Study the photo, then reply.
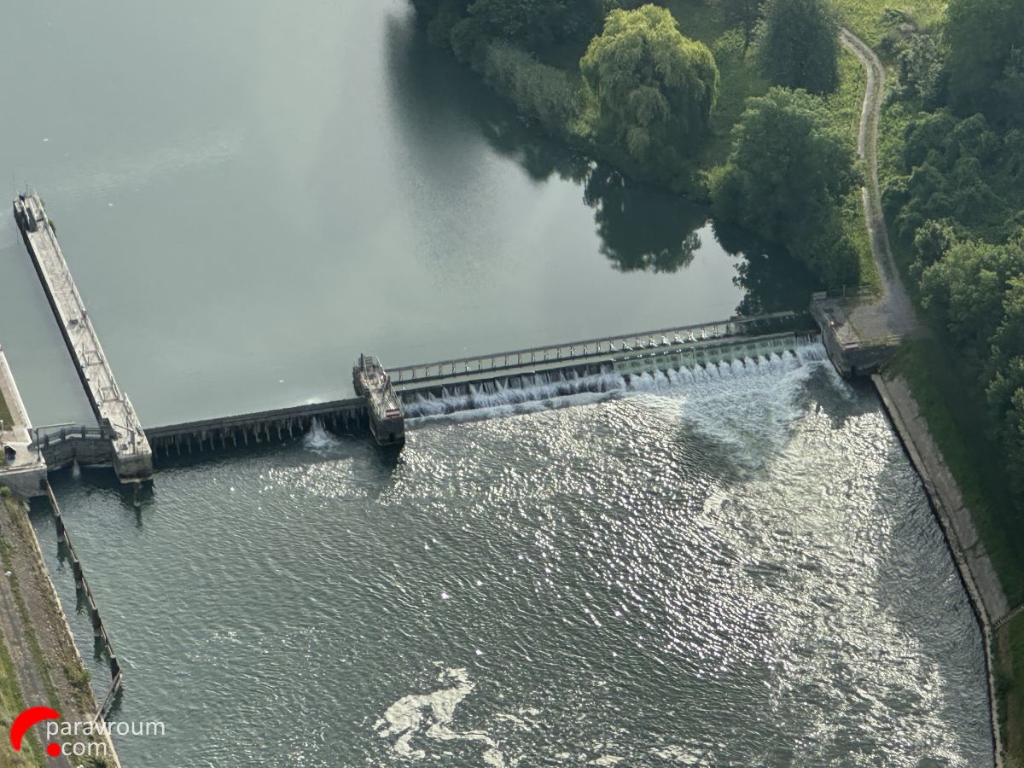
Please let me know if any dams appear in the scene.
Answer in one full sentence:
Yes, this view includes a dam.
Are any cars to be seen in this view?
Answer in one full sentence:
No, the picture doesn't show any car.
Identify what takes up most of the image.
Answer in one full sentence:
For the most part, this view shows water.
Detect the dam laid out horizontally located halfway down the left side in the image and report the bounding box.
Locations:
[146,400,369,465]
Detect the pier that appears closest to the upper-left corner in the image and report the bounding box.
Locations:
[11,175,156,484]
